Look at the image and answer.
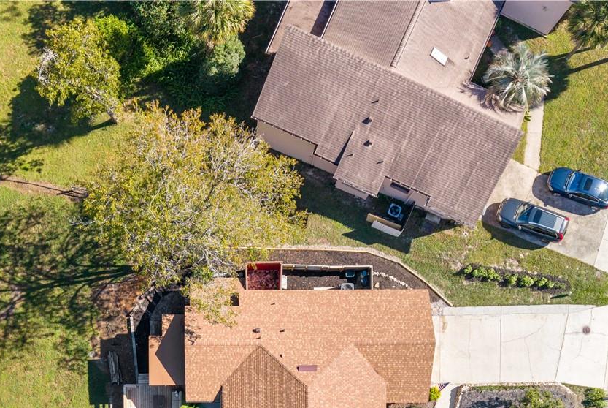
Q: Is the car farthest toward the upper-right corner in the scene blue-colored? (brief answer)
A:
Yes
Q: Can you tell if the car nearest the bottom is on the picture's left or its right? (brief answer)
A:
right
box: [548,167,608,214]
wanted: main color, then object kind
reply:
blue car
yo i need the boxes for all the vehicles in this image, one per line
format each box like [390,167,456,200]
[498,200,579,245]
[548,167,608,214]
